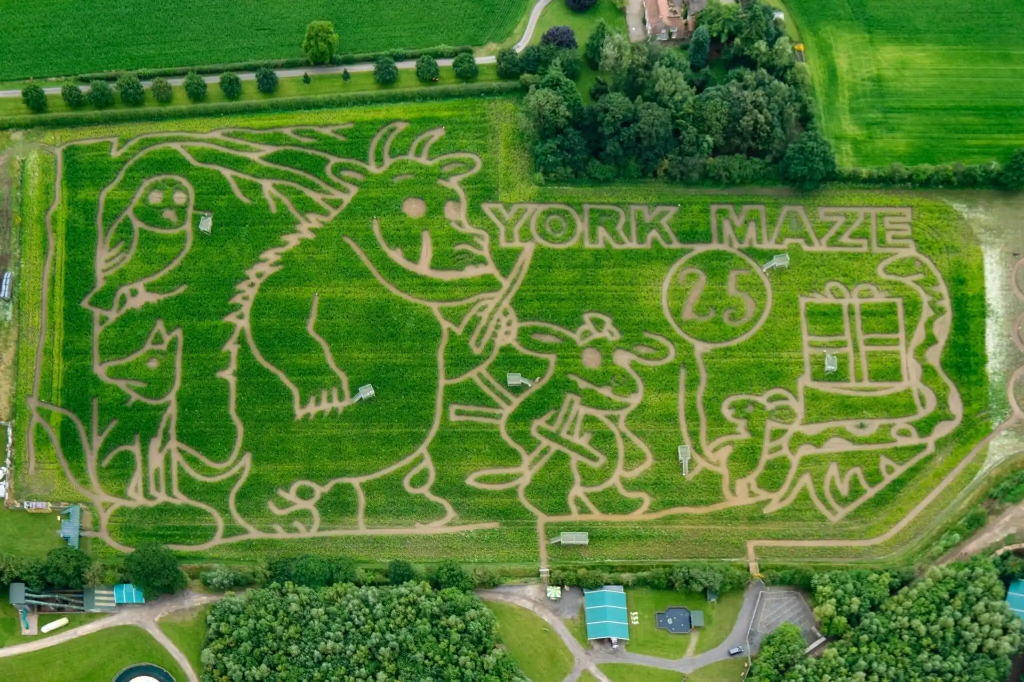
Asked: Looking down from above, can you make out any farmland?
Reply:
Yes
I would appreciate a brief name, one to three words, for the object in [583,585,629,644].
barn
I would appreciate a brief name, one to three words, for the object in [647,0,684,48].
house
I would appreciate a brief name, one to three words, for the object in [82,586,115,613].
building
